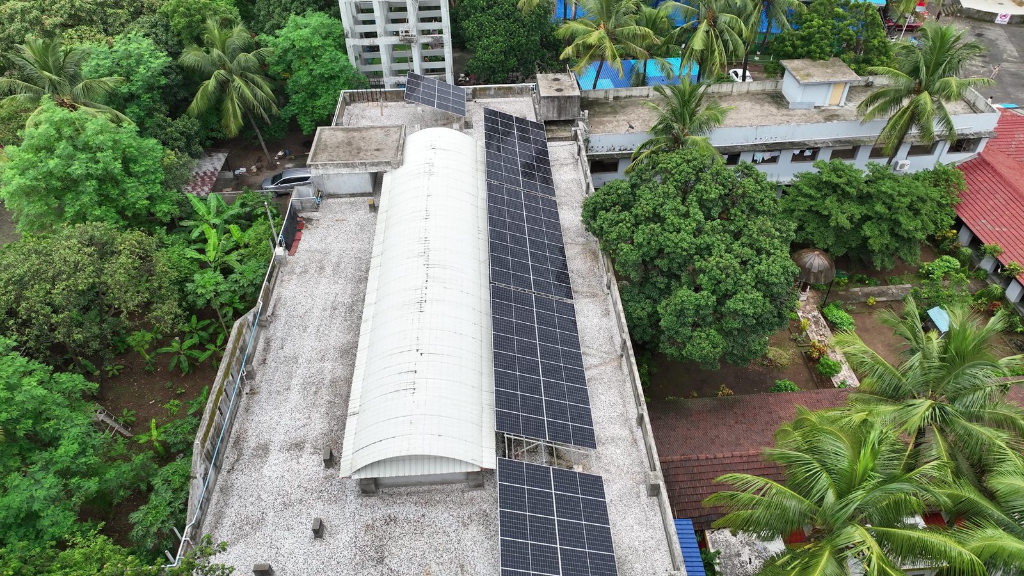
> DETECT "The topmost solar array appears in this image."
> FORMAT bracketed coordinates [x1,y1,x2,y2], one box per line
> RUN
[404,71,466,129]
